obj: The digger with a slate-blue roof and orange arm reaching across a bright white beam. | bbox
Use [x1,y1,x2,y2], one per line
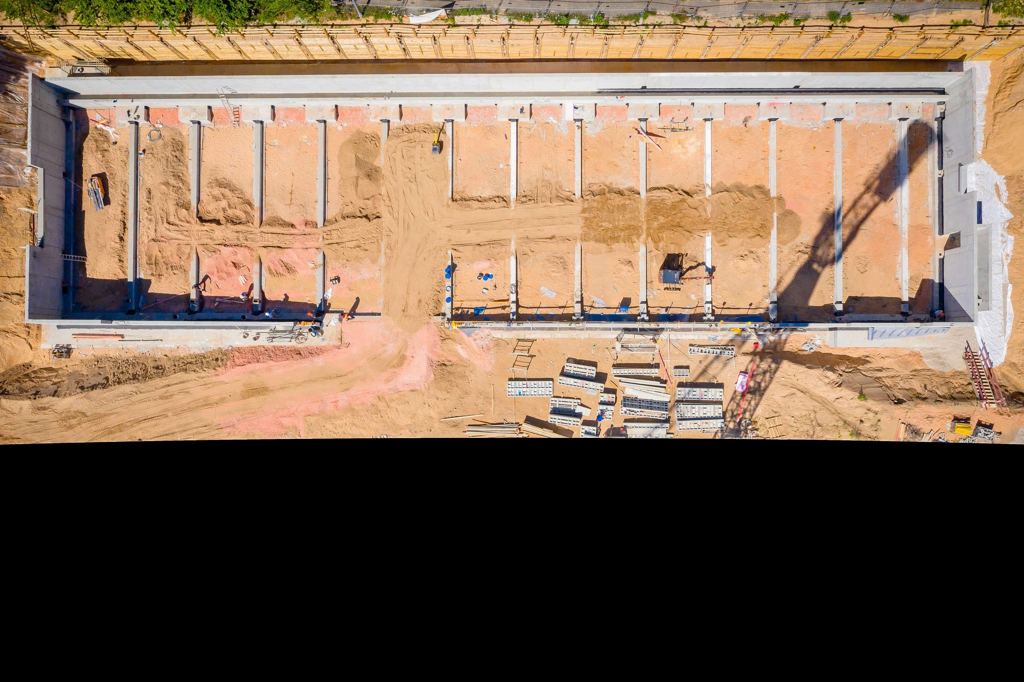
[655,267,713,293]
